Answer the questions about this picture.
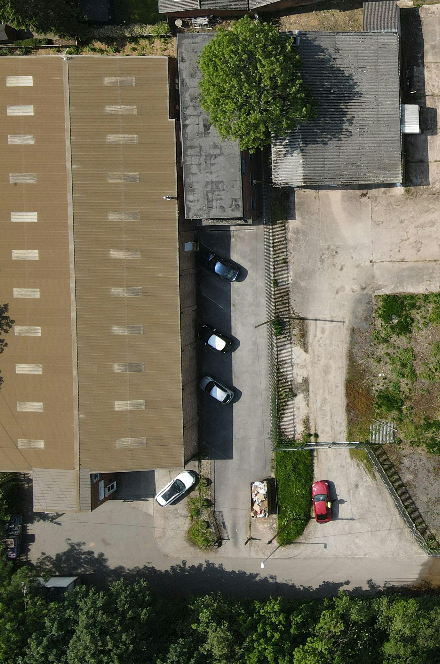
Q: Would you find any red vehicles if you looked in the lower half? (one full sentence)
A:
Yes, a red vehicle shows up in the lower half.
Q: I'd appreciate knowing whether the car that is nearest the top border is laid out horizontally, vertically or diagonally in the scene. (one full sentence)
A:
The car that is nearest the top border is oriented diagonally.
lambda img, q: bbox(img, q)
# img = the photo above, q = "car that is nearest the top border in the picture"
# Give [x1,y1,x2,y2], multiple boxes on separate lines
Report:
[202,249,245,287]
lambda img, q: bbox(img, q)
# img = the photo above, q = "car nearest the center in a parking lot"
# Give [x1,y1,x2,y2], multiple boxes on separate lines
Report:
[197,323,235,357]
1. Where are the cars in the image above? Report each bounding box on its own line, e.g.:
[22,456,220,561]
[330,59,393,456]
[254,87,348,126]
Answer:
[309,480,334,523]
[202,249,245,287]
[197,323,235,357]
[198,372,239,408]
[152,468,198,510]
